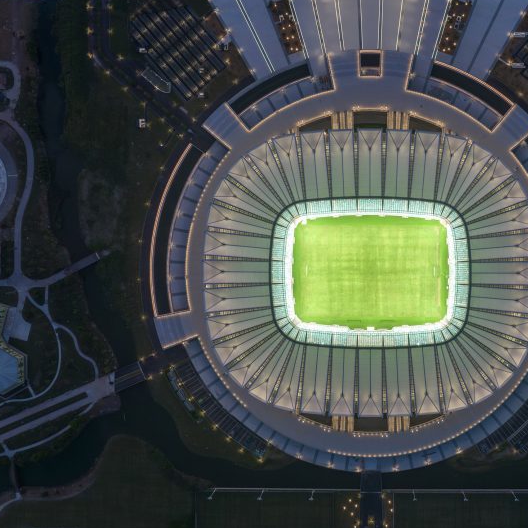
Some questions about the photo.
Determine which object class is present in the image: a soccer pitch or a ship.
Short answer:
soccer pitch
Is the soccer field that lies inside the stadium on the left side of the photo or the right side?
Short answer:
right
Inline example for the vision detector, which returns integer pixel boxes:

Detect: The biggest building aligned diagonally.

[141,67,172,94]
